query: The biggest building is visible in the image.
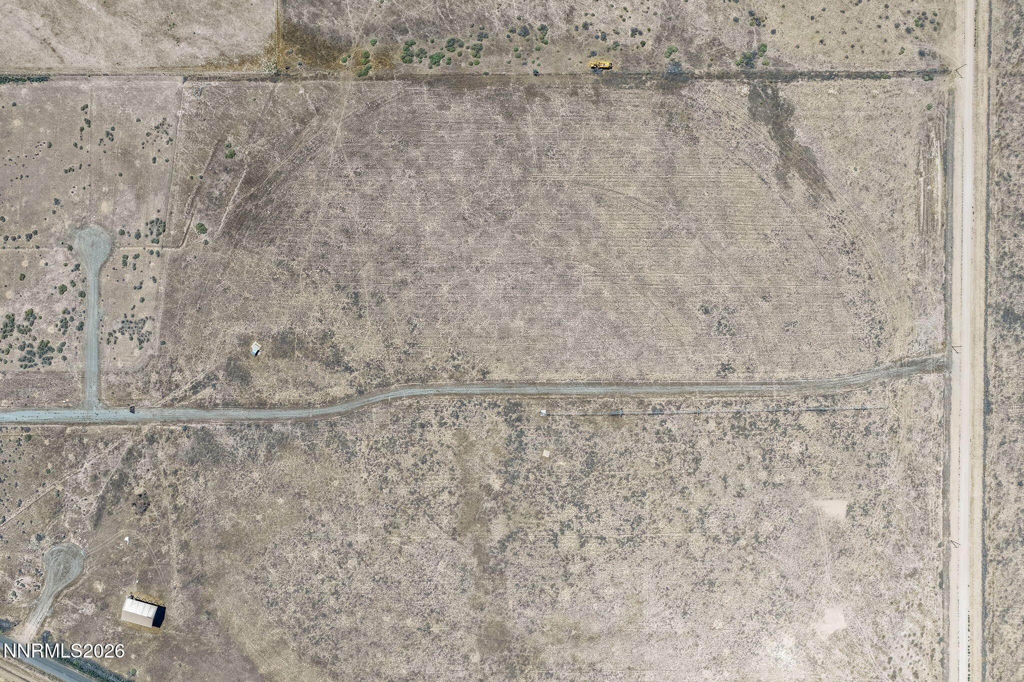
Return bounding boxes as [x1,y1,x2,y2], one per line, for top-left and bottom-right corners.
[121,595,162,628]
